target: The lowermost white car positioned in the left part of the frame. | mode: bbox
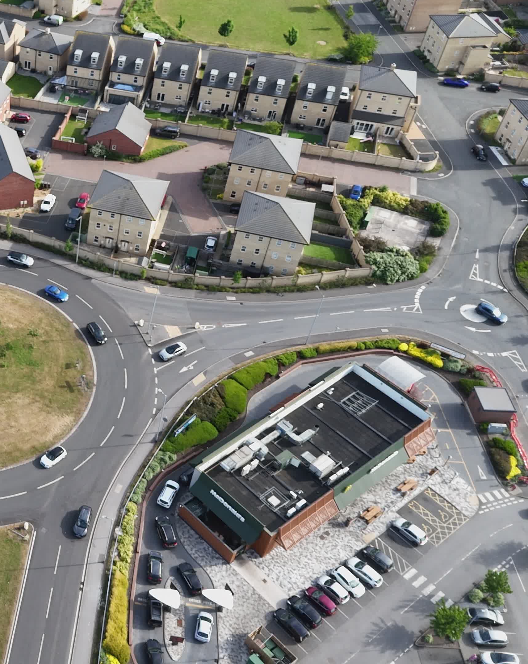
[193,608,217,647]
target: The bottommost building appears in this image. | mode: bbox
[243,623,299,664]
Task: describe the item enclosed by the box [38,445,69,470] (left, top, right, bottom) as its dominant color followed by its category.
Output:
white car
